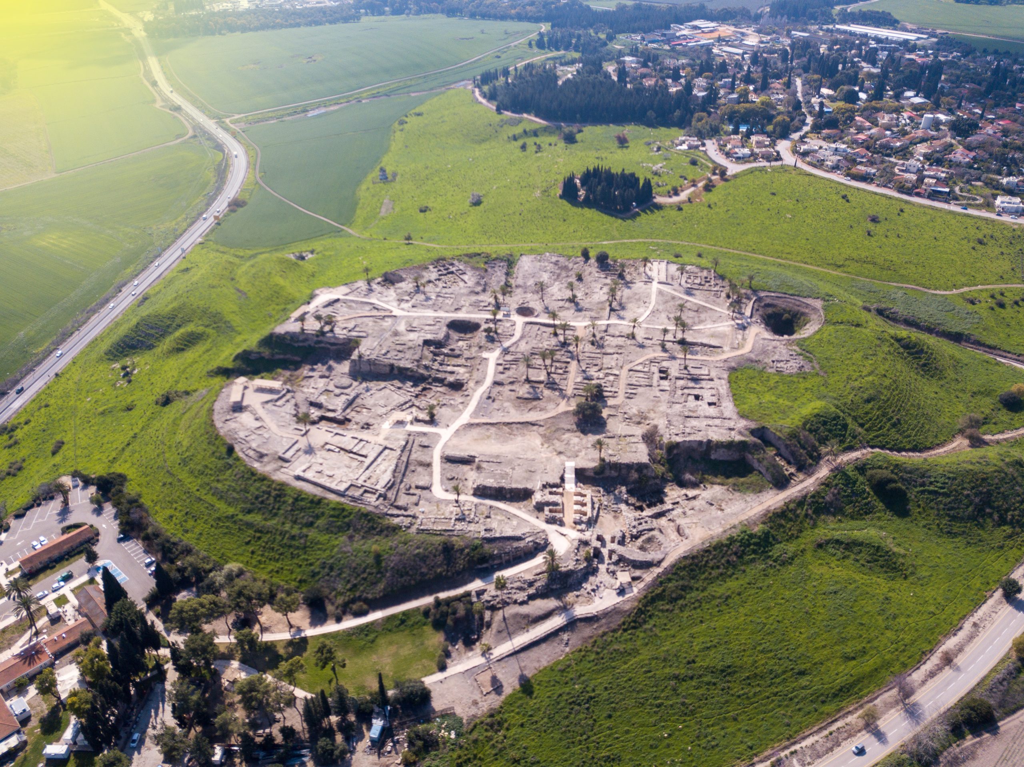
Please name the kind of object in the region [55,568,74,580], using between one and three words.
vehicle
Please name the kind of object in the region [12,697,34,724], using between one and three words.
building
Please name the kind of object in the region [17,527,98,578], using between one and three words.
shed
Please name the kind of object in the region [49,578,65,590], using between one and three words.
vehicle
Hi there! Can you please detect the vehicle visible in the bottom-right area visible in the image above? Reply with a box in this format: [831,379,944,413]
[851,741,868,755]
